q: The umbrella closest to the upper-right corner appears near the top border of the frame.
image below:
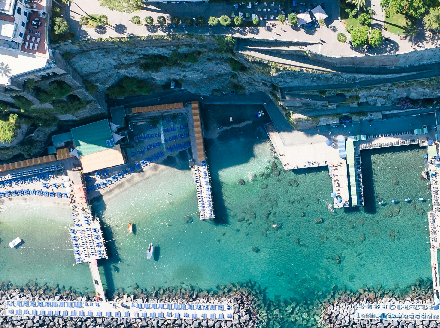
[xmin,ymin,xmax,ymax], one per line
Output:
[311,4,327,19]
